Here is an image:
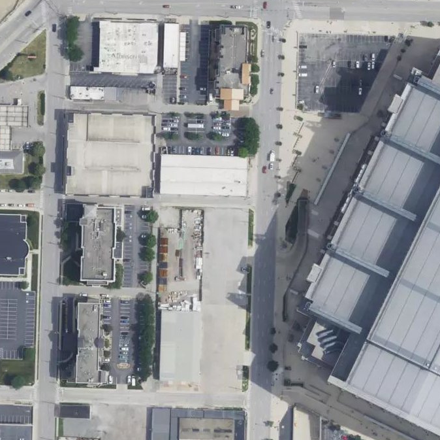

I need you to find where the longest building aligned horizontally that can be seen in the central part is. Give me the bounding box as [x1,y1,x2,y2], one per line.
[160,154,248,196]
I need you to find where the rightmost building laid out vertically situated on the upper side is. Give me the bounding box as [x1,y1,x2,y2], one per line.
[208,25,250,110]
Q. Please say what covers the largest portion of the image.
paved ground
